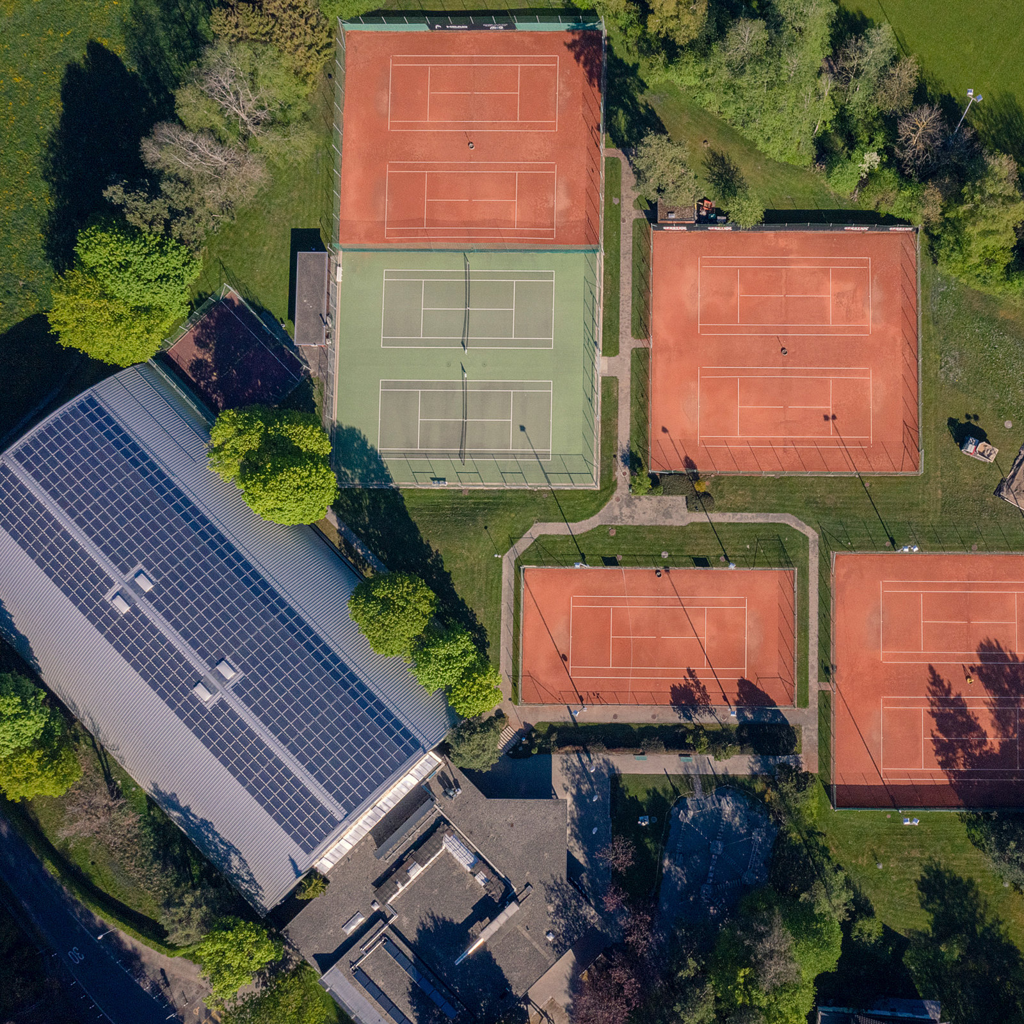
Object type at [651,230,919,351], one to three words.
tennis court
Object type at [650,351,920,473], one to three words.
tennis court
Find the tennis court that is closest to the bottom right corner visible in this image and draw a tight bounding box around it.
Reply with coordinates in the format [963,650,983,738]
[833,680,1024,810]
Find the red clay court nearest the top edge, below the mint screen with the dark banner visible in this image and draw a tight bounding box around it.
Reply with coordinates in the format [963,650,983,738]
[342,30,603,147]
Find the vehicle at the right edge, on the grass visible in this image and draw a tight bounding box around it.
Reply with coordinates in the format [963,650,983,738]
[961,435,999,461]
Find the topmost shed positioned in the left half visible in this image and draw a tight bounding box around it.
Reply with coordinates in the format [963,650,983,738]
[294,251,333,347]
